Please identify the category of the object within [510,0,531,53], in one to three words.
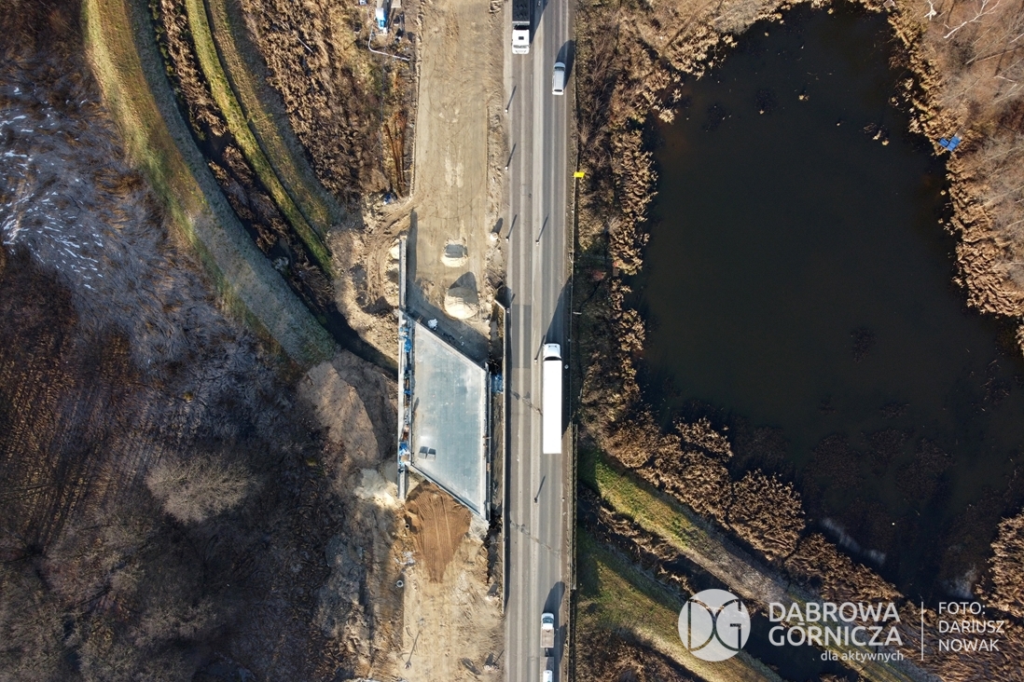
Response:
truck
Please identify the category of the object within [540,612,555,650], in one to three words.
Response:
vehicle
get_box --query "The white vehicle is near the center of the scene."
[543,342,561,460]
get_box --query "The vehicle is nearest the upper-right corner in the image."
[552,63,566,95]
